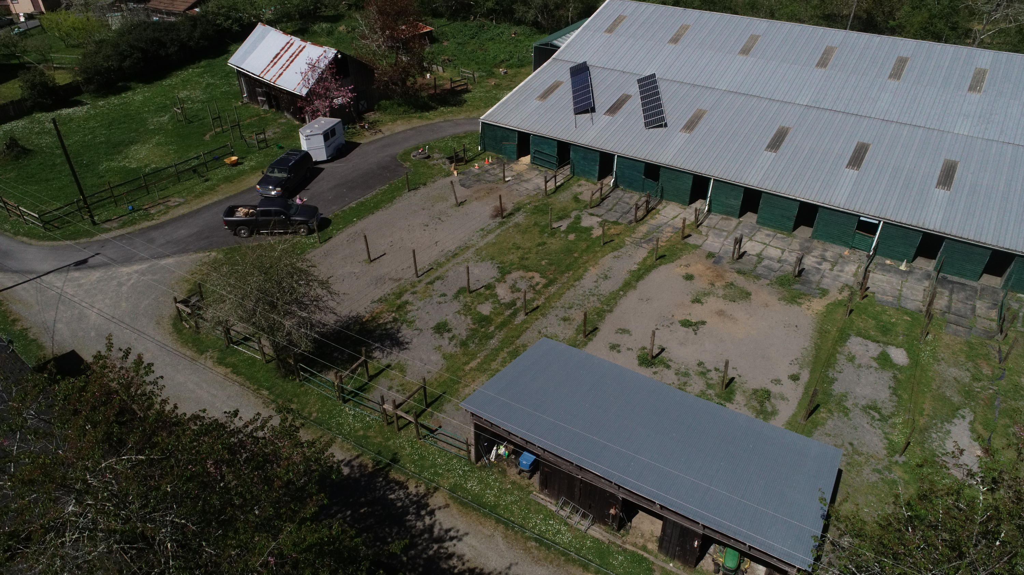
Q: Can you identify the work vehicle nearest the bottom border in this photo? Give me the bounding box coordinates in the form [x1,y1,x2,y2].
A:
[708,544,753,575]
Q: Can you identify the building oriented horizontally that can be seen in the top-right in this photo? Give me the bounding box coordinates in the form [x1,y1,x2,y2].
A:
[476,0,1024,293]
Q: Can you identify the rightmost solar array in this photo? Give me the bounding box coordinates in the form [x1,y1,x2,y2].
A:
[637,76,666,133]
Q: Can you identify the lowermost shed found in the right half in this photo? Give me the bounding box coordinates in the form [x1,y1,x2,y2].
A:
[459,338,842,575]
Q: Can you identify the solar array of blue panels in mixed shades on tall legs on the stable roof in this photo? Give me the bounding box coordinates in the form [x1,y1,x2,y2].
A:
[569,61,593,126]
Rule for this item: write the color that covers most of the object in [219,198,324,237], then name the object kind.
black truck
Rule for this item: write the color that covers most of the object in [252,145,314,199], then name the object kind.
black car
